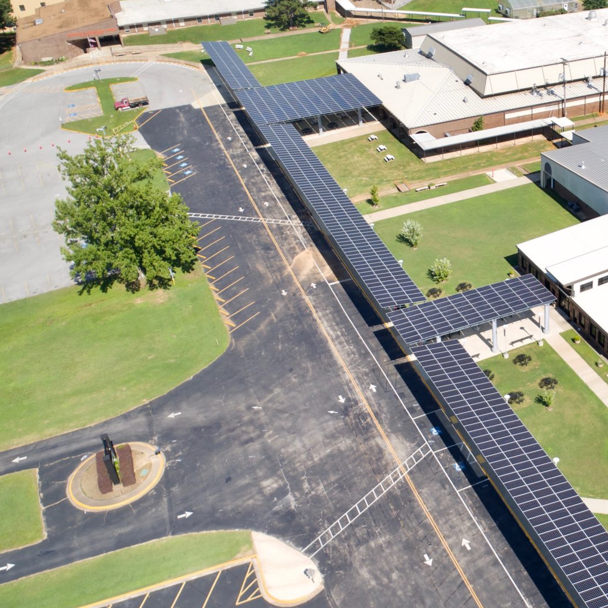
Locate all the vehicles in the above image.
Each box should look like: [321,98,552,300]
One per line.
[318,19,339,32]
[111,93,148,110]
